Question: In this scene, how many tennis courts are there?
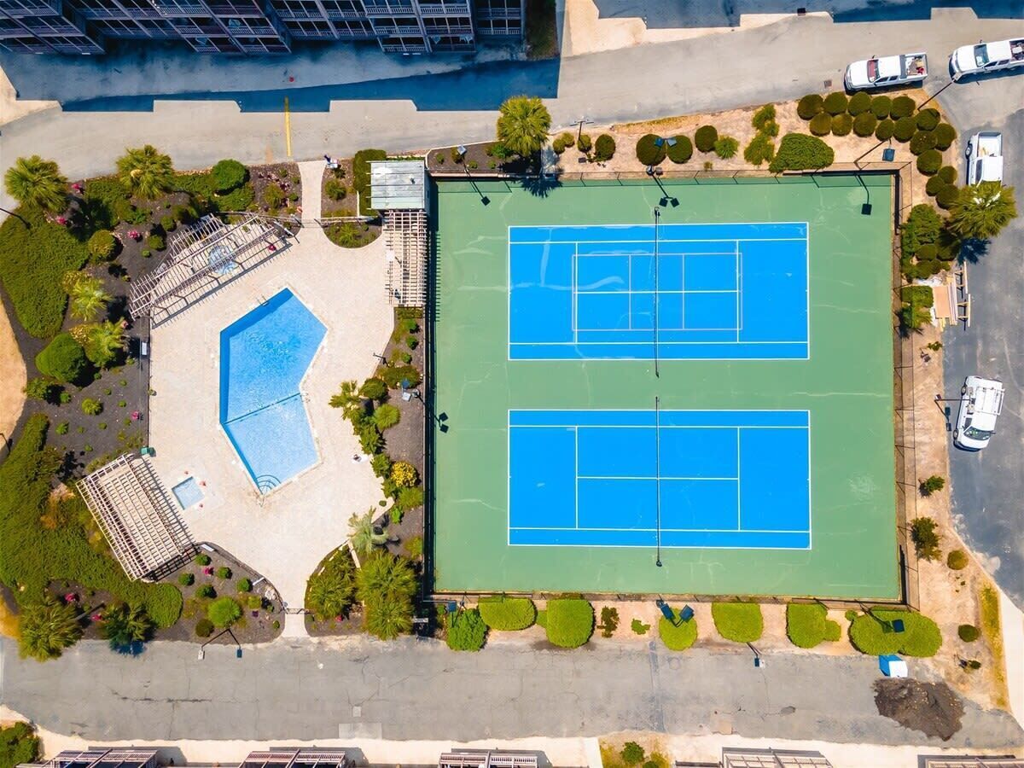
3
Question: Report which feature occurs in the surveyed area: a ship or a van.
van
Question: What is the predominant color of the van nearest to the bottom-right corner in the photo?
white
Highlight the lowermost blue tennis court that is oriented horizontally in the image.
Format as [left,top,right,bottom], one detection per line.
[509,409,812,549]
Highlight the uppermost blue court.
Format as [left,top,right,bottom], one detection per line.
[509,222,809,360]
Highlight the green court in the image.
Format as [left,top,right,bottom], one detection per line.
[433,174,901,600]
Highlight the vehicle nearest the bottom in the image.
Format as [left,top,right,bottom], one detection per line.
[955,376,1006,449]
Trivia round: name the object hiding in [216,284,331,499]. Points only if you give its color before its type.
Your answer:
blue swimming pool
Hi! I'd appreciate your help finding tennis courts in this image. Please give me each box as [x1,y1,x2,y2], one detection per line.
[433,174,901,600]
[509,222,809,360]
[509,409,812,549]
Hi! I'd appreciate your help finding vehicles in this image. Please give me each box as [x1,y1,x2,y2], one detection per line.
[966,133,1005,192]
[955,376,1006,449]
[844,54,927,93]
[947,40,1024,80]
